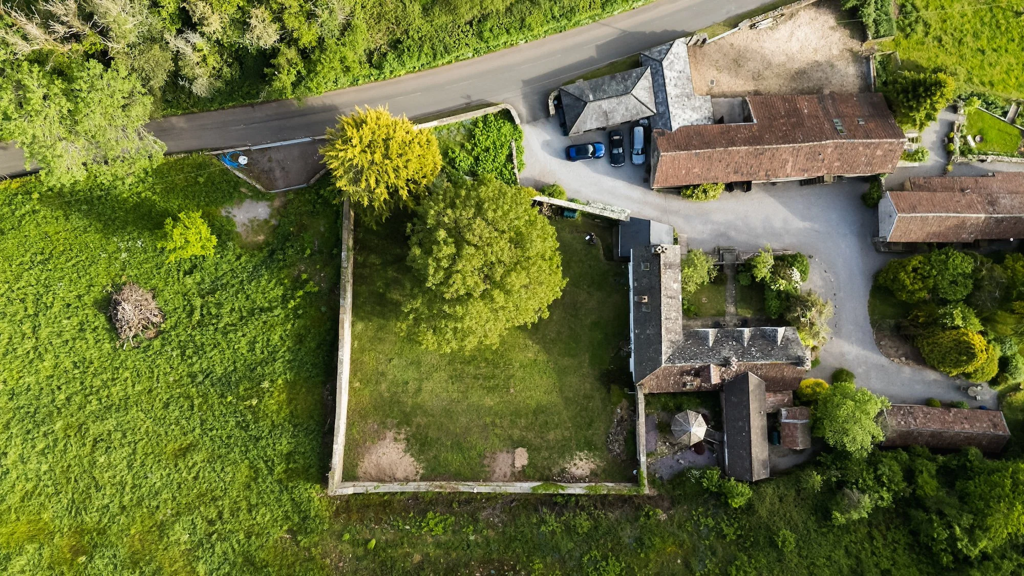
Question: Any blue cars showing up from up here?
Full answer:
Yes, a blue car is visible in the scene.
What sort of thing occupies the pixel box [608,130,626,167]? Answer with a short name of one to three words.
car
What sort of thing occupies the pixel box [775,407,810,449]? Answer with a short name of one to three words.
shed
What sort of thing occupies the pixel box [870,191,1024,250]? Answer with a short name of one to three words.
barn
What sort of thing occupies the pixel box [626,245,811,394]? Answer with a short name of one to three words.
house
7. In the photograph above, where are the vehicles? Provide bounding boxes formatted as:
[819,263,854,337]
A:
[566,140,605,162]
[608,130,626,167]
[629,126,648,165]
